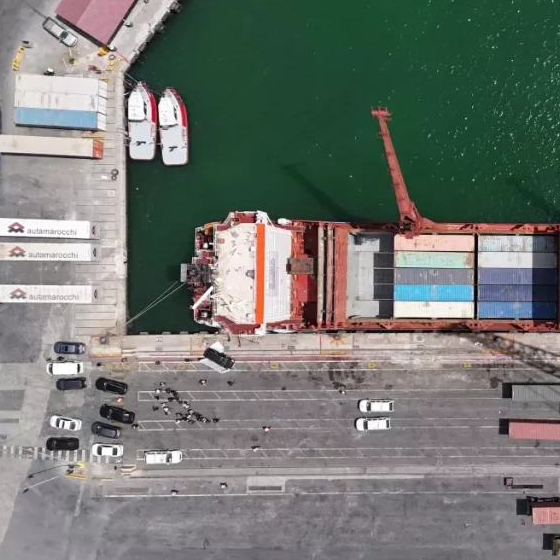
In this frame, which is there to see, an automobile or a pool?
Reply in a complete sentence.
Visible in the photo is an automobile.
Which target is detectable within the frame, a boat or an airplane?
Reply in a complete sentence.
Of the two, only a boat appears.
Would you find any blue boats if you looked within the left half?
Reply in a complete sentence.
No, no blue boat is visible within the left half.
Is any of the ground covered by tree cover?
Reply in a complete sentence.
No, the picture contains no tree cover.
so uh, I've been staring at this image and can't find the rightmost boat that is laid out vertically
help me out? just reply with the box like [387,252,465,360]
[158,87,191,168]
